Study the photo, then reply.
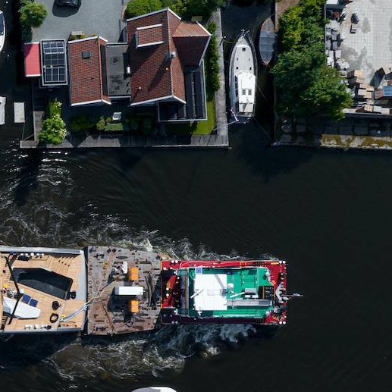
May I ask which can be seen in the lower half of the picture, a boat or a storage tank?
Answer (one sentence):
You can see a boat in the lower half of the picture.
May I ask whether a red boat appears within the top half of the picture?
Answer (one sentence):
No, the scene shows no red boat within the top half of the picture.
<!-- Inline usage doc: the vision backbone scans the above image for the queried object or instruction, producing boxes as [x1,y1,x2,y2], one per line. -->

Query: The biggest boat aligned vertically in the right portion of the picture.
[232,28,263,125]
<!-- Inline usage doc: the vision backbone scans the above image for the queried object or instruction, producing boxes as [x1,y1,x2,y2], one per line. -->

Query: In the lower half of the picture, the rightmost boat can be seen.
[155,259,302,325]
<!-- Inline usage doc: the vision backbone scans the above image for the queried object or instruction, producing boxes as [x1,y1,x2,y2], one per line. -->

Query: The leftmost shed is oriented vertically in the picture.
[22,41,41,81]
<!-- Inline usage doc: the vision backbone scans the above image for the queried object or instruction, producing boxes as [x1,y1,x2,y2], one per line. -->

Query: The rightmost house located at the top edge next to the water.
[120,8,212,125]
